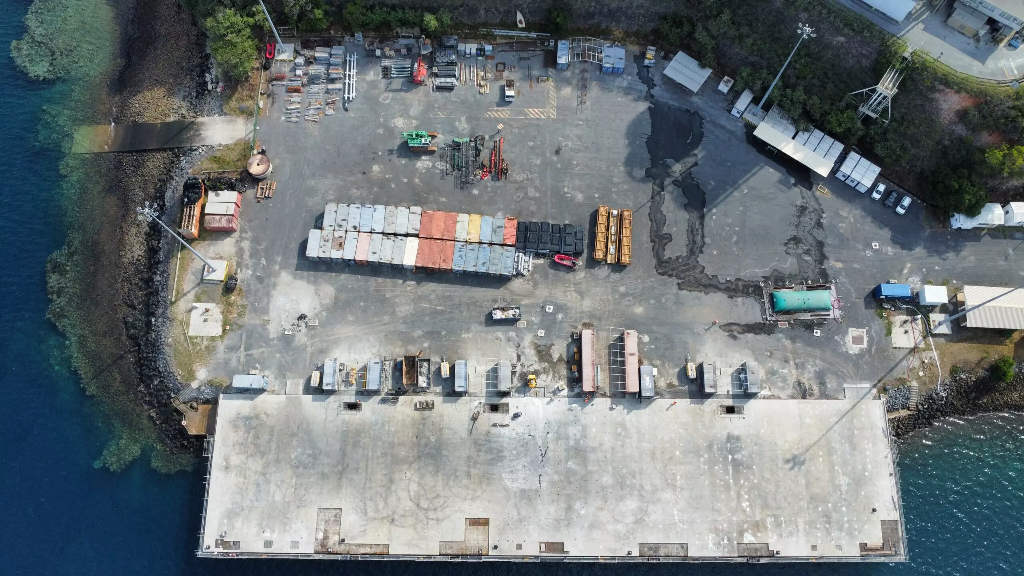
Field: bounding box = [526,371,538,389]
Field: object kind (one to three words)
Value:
vehicle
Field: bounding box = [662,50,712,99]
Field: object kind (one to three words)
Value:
shed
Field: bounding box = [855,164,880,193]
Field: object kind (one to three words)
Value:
building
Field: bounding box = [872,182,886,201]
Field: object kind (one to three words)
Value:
car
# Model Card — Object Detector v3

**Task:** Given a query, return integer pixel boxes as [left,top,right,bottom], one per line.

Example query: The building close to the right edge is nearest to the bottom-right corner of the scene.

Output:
[951,287,1024,333]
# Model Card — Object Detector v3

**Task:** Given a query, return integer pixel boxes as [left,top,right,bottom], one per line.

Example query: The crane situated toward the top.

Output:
[400,129,439,152]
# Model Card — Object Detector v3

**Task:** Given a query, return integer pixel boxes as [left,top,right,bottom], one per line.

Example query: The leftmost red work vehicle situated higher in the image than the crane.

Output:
[405,31,433,86]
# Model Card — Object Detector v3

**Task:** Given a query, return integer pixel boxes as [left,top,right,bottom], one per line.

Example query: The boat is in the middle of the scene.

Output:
[553,254,579,267]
